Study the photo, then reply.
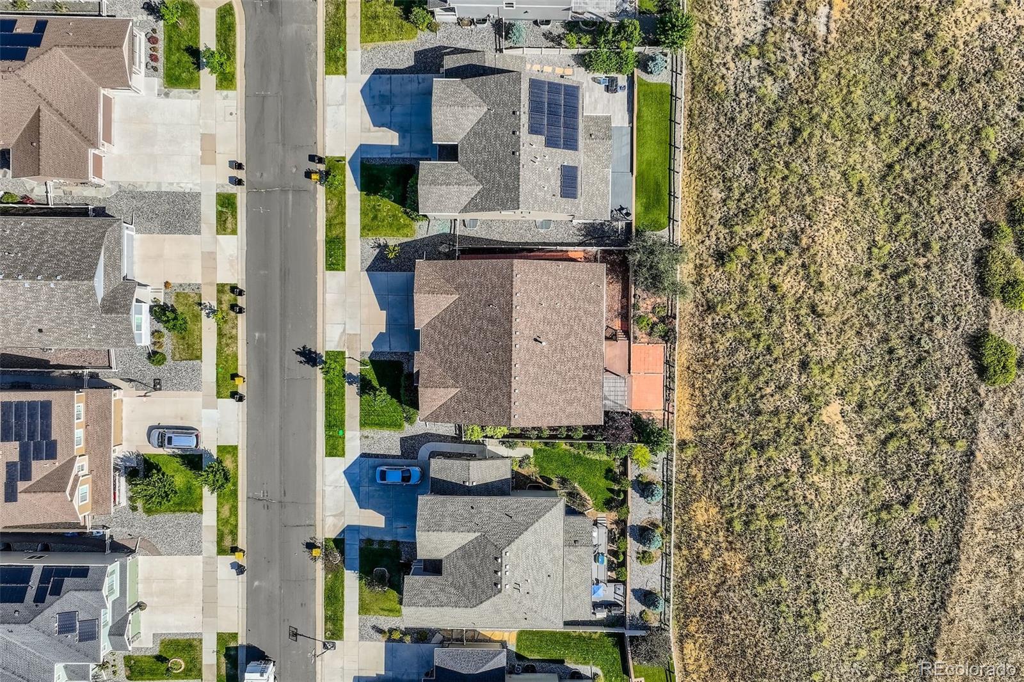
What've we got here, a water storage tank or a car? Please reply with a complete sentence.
There is a car in the scene.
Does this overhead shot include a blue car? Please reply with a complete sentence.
Yes, a blue car appears in the view.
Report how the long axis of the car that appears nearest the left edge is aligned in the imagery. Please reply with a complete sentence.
The car that appears nearest the left edge is oriented horizontally.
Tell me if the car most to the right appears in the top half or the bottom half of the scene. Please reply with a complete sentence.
Seen from above, the car most to the right lies in the bottom half of the view.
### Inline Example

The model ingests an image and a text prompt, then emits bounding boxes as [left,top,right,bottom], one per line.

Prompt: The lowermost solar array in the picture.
[57,612,98,644]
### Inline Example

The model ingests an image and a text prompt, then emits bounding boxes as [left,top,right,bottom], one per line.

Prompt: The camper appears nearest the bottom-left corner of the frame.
[245,660,279,682]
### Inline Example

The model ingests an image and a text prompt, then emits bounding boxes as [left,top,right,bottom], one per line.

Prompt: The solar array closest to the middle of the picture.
[561,165,578,198]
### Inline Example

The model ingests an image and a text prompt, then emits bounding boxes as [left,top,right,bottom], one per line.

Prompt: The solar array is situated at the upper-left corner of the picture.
[0,19,48,60]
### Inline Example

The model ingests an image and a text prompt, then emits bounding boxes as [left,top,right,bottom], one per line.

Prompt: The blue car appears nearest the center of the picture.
[378,464,423,486]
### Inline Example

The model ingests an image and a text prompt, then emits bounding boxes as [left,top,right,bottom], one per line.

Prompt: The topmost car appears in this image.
[151,428,201,451]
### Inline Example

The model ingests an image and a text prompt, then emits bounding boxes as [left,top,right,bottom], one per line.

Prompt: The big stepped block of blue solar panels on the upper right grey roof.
[529,78,579,150]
